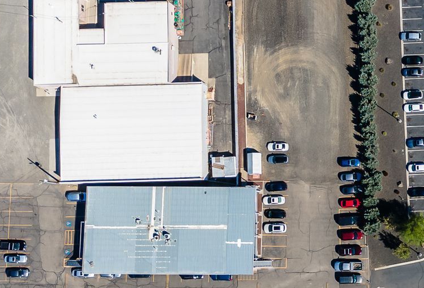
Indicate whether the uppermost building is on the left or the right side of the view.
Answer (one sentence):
The uppermost building sits on the left side.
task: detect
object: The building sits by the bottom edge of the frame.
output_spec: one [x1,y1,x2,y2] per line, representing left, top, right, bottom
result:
[82,187,259,274]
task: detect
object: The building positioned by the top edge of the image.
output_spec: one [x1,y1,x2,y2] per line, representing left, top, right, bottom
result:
[34,0,178,89]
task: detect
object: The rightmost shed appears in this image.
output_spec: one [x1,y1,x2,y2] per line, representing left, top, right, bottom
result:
[248,152,264,174]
